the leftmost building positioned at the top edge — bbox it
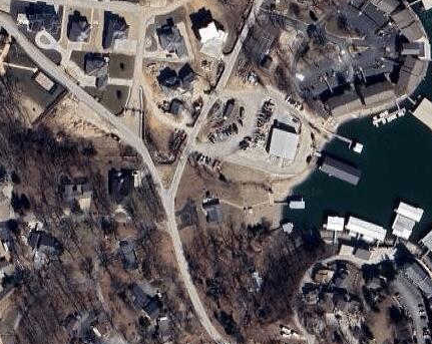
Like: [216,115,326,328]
[24,14,61,35]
